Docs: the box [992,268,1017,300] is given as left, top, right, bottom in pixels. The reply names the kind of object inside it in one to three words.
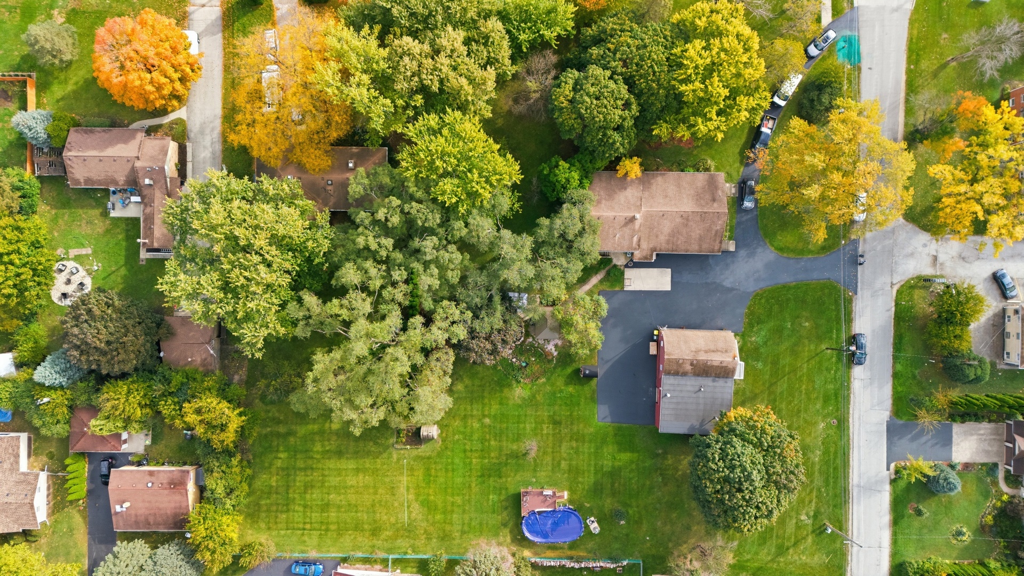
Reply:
car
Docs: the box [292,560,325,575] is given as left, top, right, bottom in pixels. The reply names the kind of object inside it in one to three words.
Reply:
car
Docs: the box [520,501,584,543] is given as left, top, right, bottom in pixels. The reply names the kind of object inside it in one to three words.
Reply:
swimming pool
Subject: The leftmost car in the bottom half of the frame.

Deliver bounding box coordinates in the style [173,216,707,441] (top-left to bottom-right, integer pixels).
[98,456,116,486]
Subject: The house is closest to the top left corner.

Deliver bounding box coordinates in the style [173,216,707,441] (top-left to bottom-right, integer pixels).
[63,128,181,264]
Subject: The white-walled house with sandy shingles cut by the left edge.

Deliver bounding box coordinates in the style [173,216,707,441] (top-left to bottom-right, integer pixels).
[0,430,48,531]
